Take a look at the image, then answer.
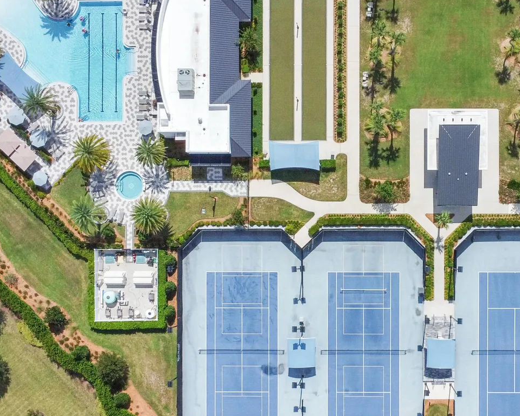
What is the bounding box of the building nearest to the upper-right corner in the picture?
[427,110,487,205]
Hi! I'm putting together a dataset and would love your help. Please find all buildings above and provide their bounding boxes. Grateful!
[150,0,252,168]
[427,110,487,205]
